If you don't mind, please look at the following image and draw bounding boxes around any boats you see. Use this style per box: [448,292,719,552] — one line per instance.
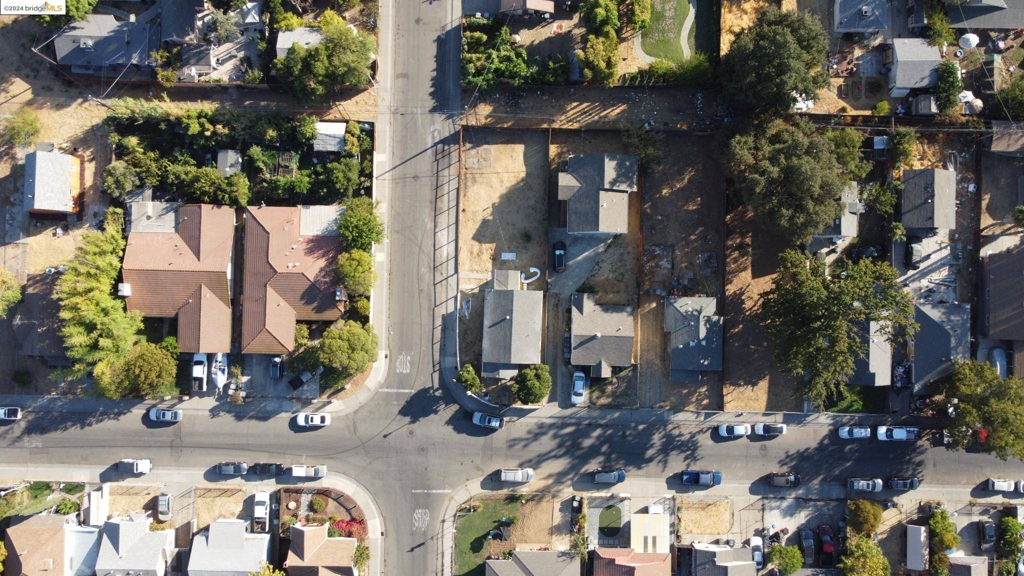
[210,353,226,391]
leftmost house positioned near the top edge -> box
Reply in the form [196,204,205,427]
[54,15,162,81]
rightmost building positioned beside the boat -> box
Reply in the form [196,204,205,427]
[242,206,346,354]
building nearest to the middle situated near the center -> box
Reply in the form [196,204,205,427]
[482,270,543,379]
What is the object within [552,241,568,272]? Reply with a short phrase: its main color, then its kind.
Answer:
black car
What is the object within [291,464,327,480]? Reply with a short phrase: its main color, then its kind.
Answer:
white vehicle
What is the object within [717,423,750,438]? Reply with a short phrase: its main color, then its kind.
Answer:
white car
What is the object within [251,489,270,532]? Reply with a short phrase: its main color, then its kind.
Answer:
white vehicle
